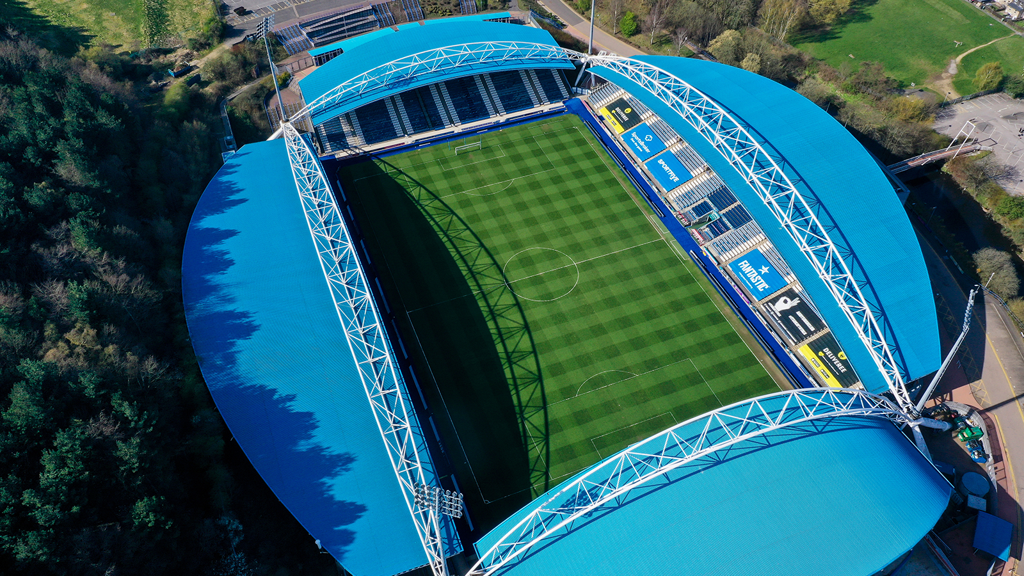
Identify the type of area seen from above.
sports ground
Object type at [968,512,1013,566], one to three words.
shed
